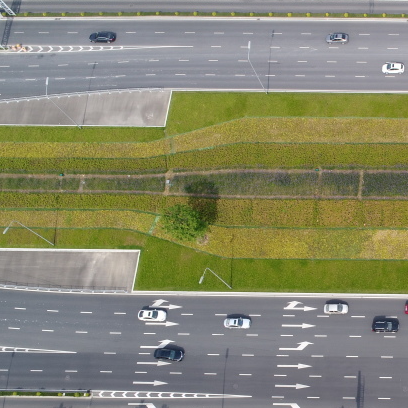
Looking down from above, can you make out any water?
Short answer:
No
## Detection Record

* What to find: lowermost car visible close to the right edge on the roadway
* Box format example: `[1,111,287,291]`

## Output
[371,319,398,332]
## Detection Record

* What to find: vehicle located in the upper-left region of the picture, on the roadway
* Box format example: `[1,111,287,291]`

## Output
[89,30,113,42]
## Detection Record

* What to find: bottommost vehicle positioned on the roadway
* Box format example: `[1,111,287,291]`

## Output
[153,348,183,361]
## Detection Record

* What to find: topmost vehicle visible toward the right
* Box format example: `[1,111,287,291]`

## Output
[325,31,349,43]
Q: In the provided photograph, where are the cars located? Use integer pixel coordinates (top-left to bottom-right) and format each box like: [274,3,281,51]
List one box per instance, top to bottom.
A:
[89,30,113,42]
[325,31,349,43]
[381,62,405,73]
[323,302,347,314]
[136,309,165,322]
[222,316,251,328]
[371,319,398,332]
[153,348,183,361]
